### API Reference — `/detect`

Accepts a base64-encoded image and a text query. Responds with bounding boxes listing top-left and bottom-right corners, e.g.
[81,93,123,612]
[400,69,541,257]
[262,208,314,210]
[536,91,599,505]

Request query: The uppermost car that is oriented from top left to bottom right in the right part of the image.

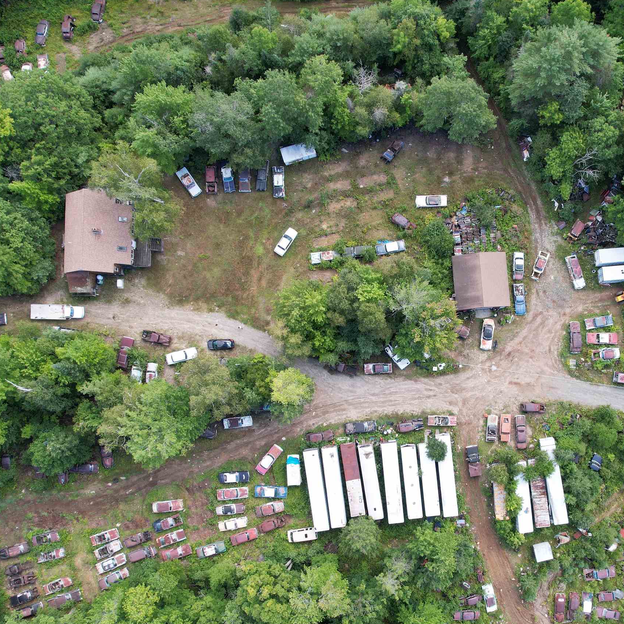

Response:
[392,212,414,232]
